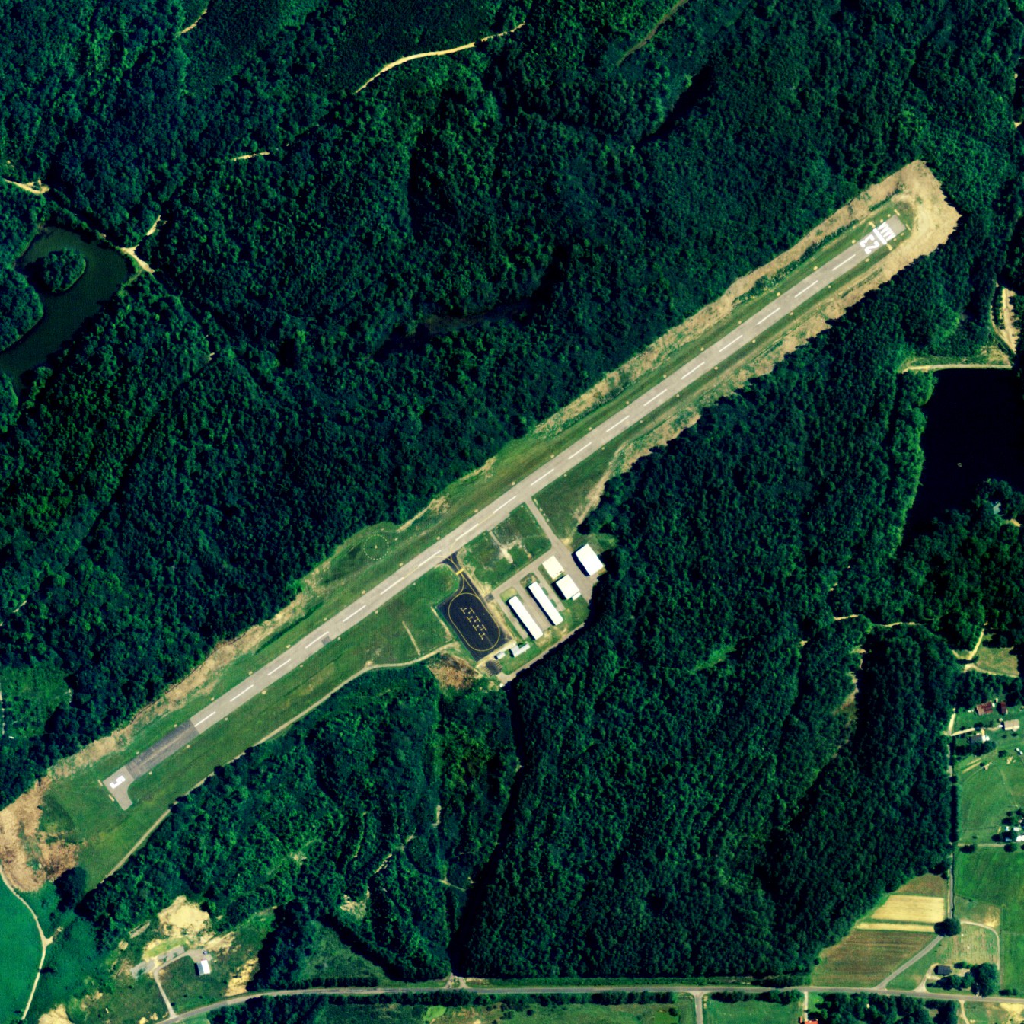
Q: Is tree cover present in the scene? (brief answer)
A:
Yes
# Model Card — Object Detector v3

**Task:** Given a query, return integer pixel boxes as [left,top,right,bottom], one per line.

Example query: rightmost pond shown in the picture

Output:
[901,367,1024,554]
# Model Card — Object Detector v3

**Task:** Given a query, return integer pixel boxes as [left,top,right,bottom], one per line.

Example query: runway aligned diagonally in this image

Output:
[103,215,905,810]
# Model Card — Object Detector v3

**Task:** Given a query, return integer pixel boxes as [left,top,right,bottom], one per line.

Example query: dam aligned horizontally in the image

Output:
[897,344,1012,375]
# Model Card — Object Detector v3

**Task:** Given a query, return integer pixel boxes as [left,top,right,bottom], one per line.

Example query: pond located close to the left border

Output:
[0,225,127,403]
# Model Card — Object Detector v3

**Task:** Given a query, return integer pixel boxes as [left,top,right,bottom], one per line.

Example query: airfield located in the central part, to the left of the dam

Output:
[38,198,914,896]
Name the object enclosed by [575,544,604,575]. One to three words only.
hangar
